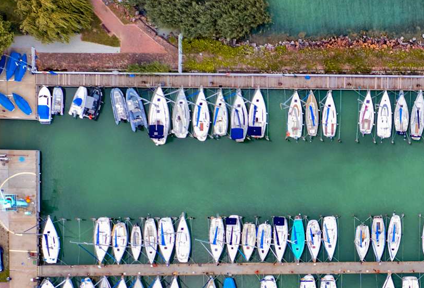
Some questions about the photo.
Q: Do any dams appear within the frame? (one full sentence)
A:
No, there's no dam here.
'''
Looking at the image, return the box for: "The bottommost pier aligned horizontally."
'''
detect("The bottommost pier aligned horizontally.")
[41,262,424,278]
